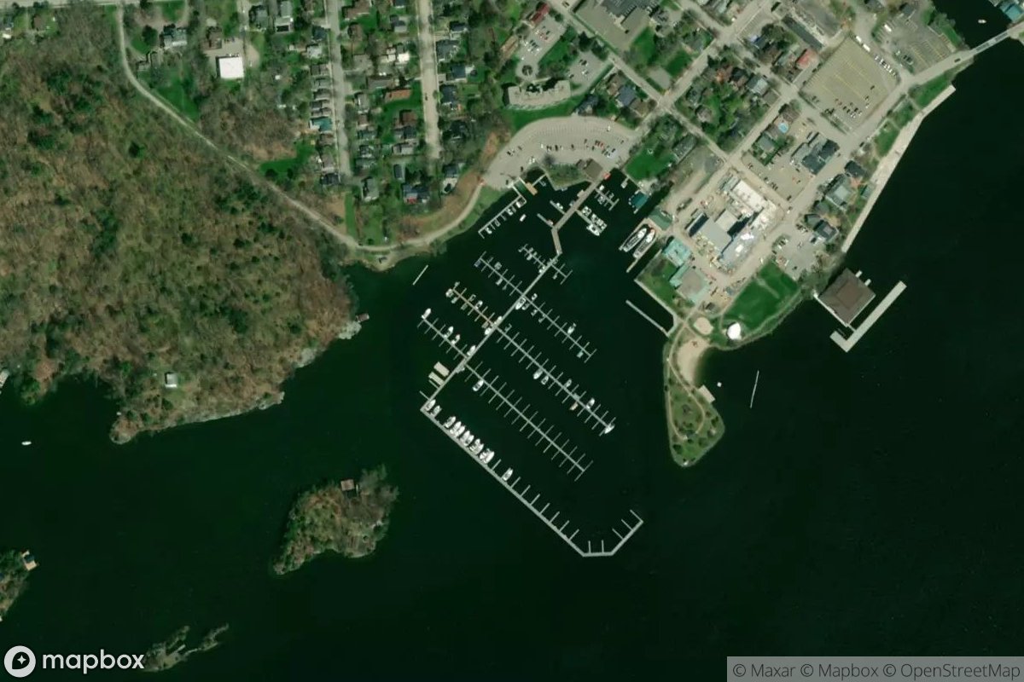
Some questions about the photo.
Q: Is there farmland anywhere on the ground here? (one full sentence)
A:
No, farmland can't be seen anywhere here.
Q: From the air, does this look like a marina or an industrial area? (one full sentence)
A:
What you see here is a marina.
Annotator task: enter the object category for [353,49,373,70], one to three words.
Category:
house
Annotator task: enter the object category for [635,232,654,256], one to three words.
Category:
boat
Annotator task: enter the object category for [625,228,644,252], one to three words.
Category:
boat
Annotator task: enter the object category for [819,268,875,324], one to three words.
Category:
building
